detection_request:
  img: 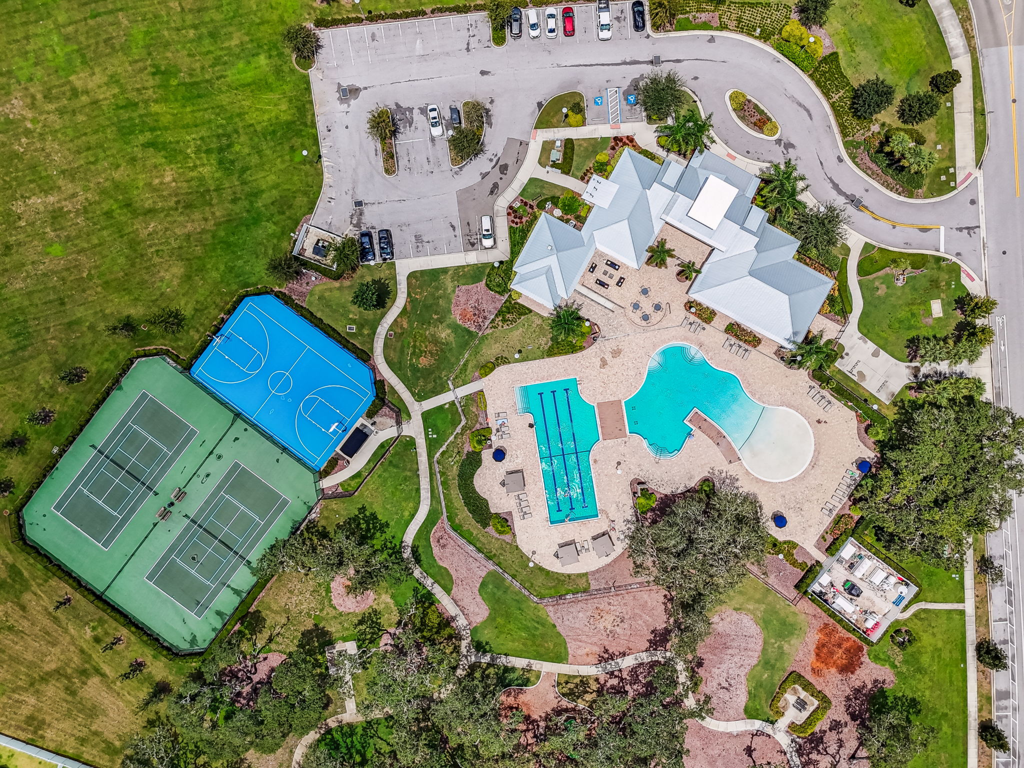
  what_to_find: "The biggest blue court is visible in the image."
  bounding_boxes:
[189,295,373,471]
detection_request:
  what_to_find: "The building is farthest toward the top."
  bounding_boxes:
[511,147,834,349]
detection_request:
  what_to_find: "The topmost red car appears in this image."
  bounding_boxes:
[562,5,575,35]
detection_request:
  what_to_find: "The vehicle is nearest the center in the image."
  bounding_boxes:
[481,215,495,246]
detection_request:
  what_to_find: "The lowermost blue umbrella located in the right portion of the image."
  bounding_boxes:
[773,514,786,527]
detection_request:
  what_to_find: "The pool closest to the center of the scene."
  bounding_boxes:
[512,376,602,527]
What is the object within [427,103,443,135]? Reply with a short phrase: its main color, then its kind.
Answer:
white car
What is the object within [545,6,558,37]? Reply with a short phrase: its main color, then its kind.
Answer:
white vehicle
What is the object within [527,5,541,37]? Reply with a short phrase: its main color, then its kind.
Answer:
white car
